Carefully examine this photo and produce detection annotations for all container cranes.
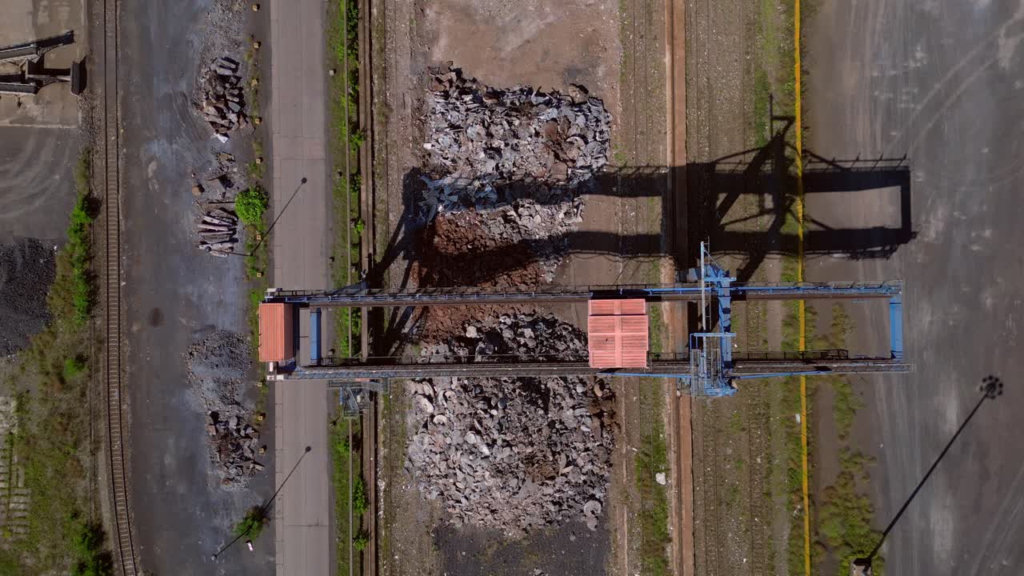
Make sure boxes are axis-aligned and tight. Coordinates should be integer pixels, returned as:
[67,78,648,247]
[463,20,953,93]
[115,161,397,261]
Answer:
[254,236,916,426]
